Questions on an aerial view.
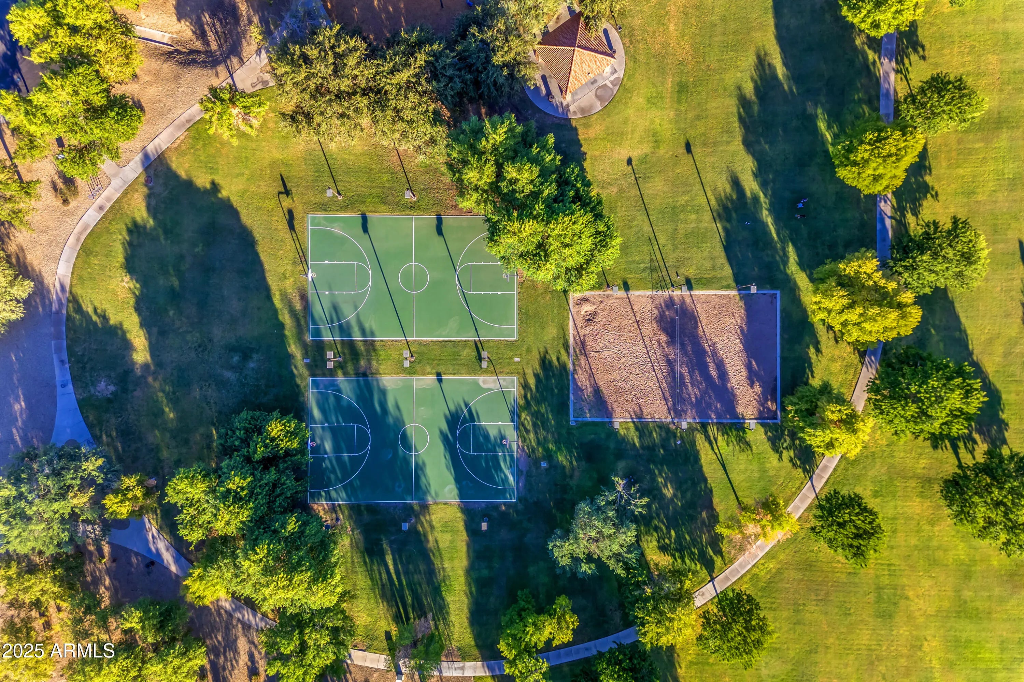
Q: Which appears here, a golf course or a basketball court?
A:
basketball court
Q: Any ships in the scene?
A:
No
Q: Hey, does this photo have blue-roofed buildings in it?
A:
No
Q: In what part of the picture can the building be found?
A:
top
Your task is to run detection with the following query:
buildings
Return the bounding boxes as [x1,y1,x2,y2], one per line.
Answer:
[532,17,617,101]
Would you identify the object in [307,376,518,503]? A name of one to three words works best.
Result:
basketball court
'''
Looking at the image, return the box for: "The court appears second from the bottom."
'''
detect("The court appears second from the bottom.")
[570,291,780,422]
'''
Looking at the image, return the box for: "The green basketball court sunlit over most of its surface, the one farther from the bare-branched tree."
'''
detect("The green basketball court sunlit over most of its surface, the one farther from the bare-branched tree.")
[308,214,518,340]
